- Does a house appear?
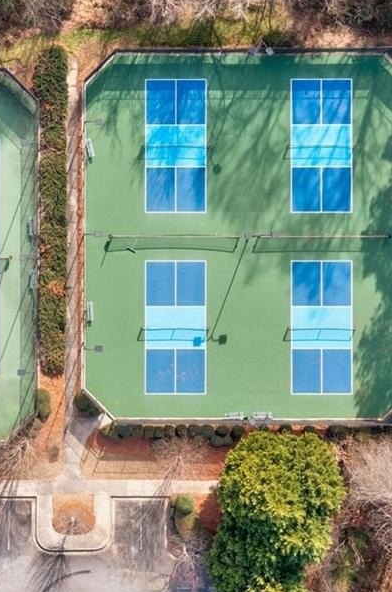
No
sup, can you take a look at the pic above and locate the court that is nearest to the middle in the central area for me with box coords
[146,261,207,395]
